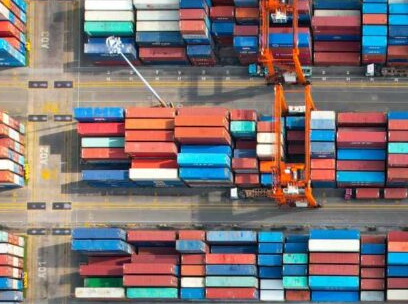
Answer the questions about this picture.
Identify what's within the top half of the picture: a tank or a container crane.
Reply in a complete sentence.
What appears within the top half of the picture is a container crane.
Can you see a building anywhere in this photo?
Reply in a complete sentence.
No, no building is visible in the scene.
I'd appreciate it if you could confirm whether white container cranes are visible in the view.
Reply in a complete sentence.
No, no white container crane can be seen from above.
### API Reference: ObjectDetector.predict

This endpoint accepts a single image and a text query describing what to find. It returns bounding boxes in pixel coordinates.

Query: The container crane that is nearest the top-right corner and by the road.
[258,0,315,84]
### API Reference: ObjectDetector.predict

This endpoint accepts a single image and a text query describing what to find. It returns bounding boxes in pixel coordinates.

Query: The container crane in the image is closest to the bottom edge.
[270,85,326,209]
